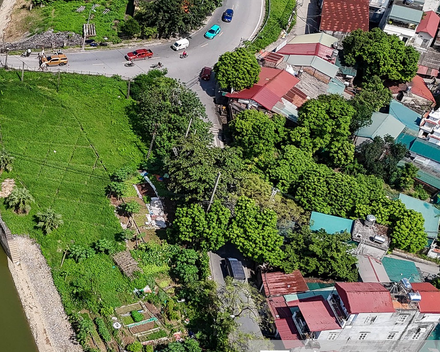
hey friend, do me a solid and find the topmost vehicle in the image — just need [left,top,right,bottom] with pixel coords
[222,8,235,23]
